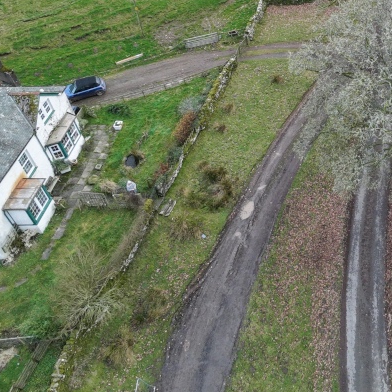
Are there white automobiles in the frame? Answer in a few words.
No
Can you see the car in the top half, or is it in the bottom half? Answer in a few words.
top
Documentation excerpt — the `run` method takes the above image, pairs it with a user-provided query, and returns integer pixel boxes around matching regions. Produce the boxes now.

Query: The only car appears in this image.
[67,75,107,104]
